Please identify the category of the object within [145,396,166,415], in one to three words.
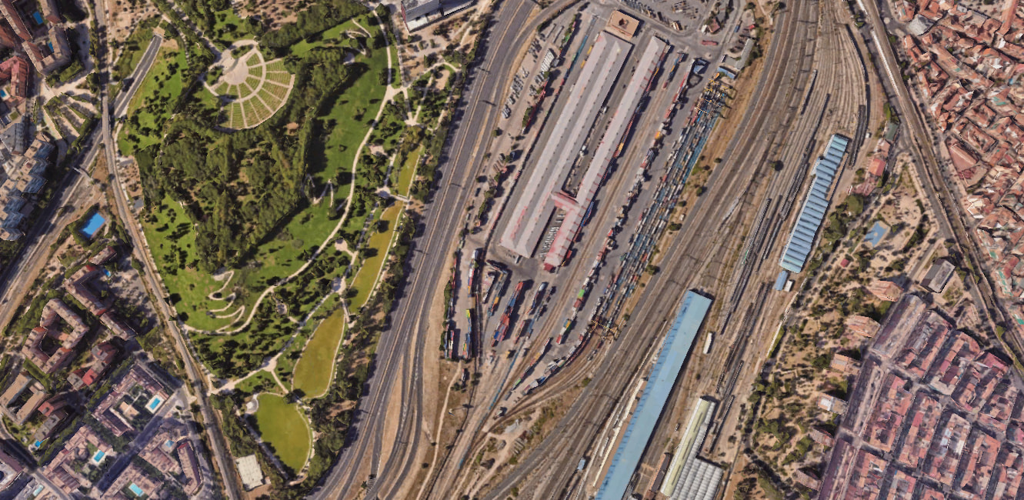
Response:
swimming pool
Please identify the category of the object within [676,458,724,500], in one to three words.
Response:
building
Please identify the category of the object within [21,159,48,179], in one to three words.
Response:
building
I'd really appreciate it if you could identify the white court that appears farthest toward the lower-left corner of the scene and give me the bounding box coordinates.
[235,454,263,491]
